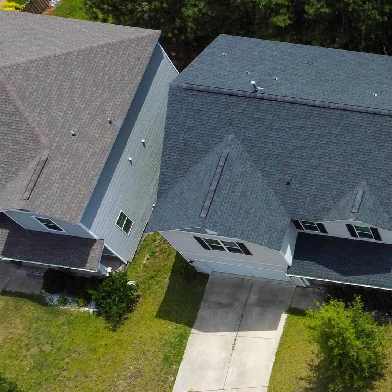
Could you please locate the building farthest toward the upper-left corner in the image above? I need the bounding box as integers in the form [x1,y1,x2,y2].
[0,12,180,284]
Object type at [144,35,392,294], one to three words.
house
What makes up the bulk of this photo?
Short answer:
buildings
